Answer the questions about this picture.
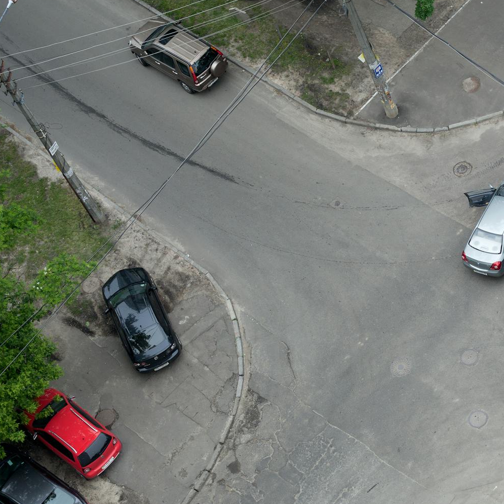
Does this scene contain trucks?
No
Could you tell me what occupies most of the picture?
paved ground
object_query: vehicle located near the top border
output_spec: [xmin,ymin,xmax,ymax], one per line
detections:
[131,20,234,94]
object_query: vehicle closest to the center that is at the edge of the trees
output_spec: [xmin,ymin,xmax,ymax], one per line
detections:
[102,266,182,374]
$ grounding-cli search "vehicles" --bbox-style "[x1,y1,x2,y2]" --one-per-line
[102,266,182,374]
[25,384,125,484]
[458,177,504,279]
[0,446,85,504]
[131,20,234,94]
